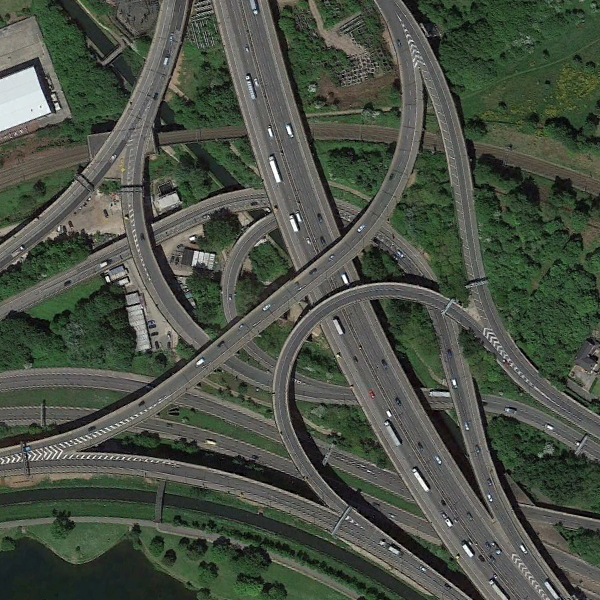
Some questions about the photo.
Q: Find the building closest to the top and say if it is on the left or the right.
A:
left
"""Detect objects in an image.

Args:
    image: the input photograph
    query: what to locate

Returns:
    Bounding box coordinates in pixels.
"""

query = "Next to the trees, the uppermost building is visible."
[0,66,52,134]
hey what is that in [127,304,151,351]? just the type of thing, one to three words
shed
